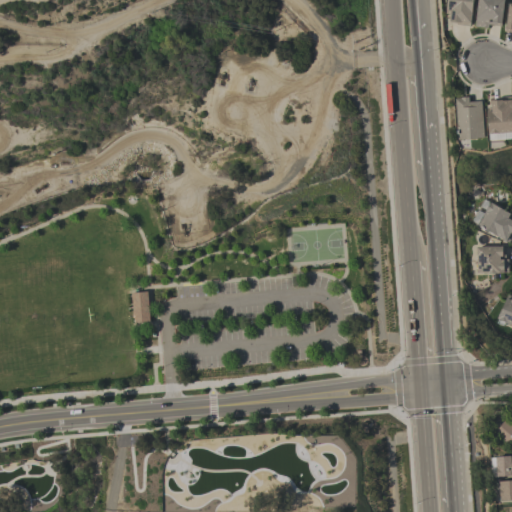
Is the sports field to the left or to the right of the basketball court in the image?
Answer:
on its left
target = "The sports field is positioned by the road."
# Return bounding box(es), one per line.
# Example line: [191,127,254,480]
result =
[0,208,146,394]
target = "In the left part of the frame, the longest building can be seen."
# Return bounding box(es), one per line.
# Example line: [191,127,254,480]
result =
[132,292,150,324]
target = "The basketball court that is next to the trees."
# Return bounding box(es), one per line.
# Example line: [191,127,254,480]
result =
[288,224,348,266]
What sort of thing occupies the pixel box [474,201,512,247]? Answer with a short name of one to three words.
house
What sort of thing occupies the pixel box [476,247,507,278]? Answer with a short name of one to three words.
house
